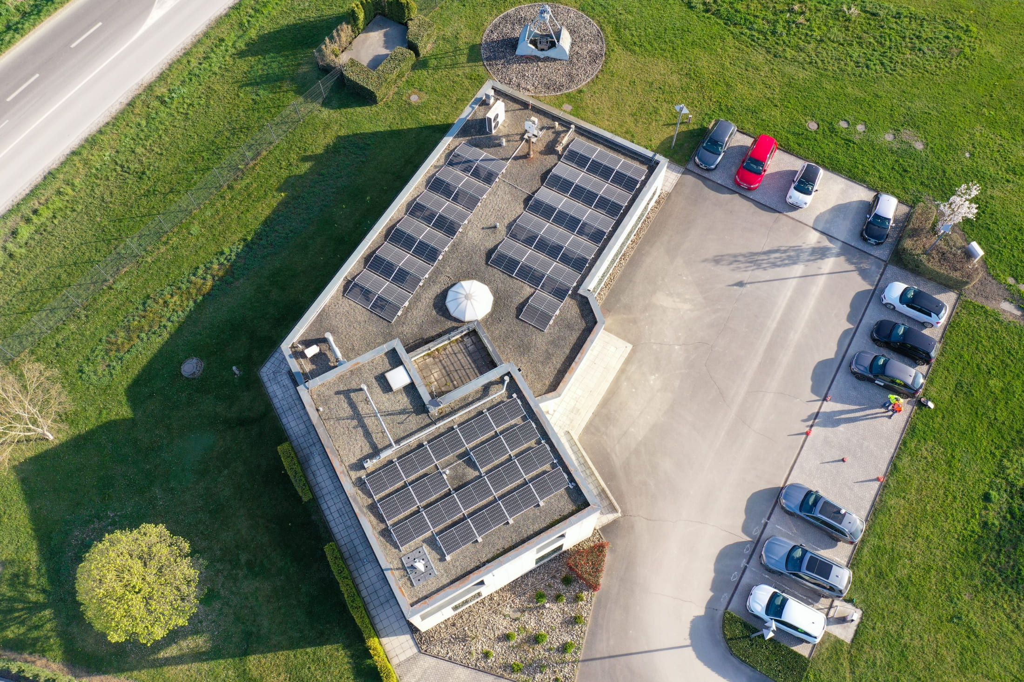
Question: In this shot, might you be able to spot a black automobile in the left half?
No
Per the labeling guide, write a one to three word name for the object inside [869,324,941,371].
car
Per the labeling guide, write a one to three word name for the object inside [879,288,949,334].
car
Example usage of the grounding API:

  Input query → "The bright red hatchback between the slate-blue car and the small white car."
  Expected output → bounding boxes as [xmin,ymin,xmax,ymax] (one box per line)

[737,134,782,190]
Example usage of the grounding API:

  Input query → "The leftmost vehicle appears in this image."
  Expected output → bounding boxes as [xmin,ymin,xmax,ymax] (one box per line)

[694,117,739,173]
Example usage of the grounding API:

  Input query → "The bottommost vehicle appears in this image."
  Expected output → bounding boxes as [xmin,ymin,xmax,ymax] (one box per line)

[743,586,833,651]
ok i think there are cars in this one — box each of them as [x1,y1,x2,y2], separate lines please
[776,485,869,548]
[785,160,824,209]
[869,324,941,371]
[859,191,902,246]
[737,134,782,190]
[743,586,833,651]
[848,357,927,408]
[694,117,739,173]
[879,288,949,334]
[759,541,856,606]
